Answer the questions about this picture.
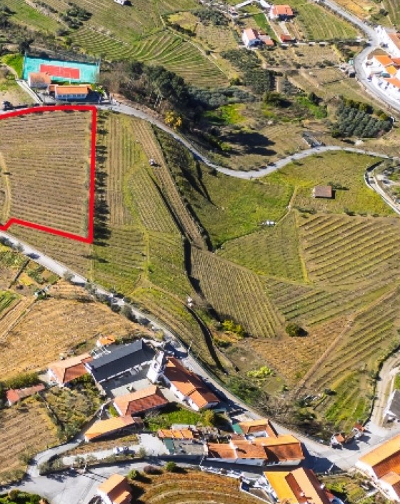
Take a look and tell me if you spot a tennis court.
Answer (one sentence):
Yes, there's a tennis court here.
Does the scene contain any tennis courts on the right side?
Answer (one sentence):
No, the scene shows no tennis court on the right side.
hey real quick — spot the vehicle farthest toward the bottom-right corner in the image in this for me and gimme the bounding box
[311,440,328,454]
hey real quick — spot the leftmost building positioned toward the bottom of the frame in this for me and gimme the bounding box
[6,380,47,410]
